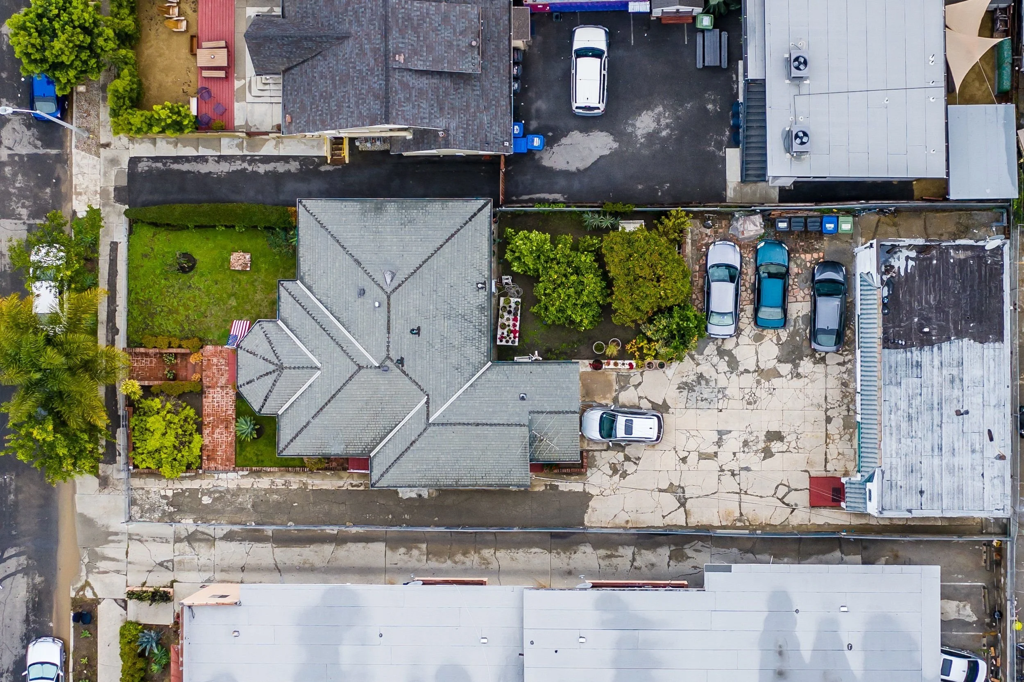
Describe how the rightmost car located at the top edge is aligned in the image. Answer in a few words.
from top to bottom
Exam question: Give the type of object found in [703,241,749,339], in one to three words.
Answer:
car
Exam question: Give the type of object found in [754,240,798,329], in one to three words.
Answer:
car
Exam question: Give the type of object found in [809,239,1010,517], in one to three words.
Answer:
shed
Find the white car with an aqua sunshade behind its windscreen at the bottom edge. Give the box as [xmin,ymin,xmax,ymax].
[15,635,62,682]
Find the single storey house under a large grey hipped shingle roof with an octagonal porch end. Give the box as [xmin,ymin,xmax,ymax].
[228,196,581,491]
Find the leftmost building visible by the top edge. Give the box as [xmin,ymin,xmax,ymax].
[243,0,515,156]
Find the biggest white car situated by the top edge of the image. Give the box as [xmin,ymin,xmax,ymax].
[568,22,615,117]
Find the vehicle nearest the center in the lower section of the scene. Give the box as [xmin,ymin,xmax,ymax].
[582,404,665,450]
